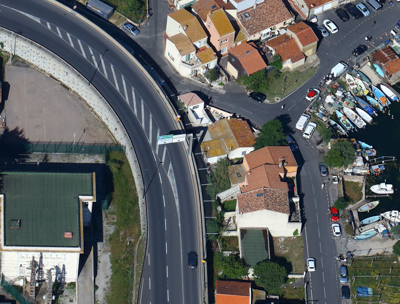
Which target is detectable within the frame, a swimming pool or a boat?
boat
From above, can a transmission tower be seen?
Yes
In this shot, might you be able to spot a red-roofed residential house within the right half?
Yes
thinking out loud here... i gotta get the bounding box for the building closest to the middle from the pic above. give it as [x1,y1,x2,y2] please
[201,139,227,166]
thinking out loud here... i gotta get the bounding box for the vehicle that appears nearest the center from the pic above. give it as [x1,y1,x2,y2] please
[248,90,266,103]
